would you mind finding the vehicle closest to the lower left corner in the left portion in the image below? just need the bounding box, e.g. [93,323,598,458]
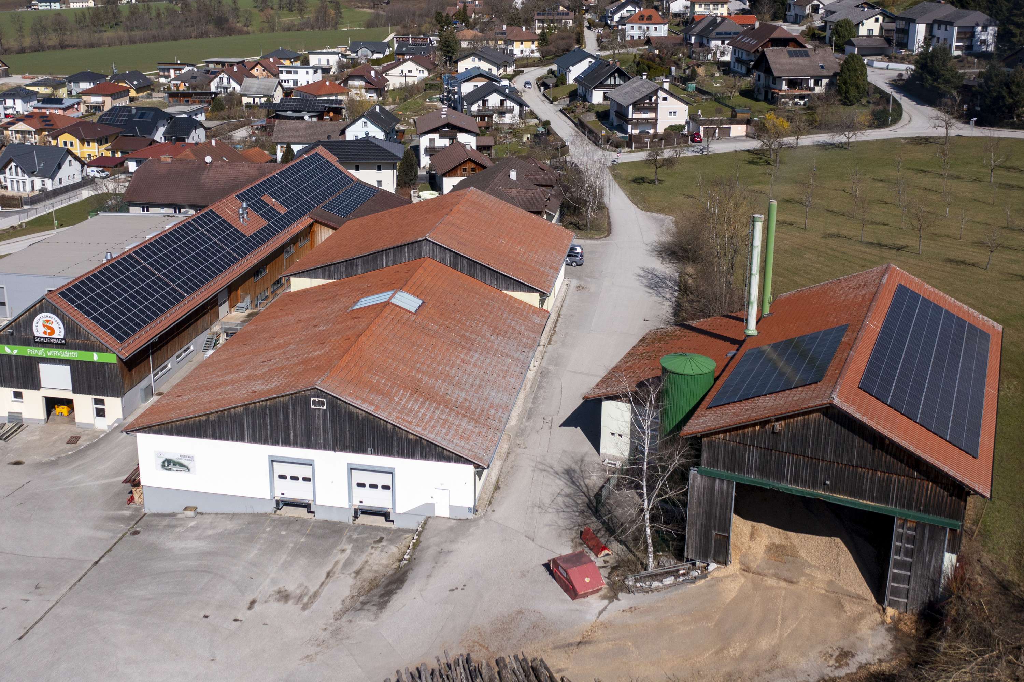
[62,403,76,421]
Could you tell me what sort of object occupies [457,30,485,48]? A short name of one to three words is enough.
house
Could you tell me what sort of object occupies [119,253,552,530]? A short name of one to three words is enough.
warehouse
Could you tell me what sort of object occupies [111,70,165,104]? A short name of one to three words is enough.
house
